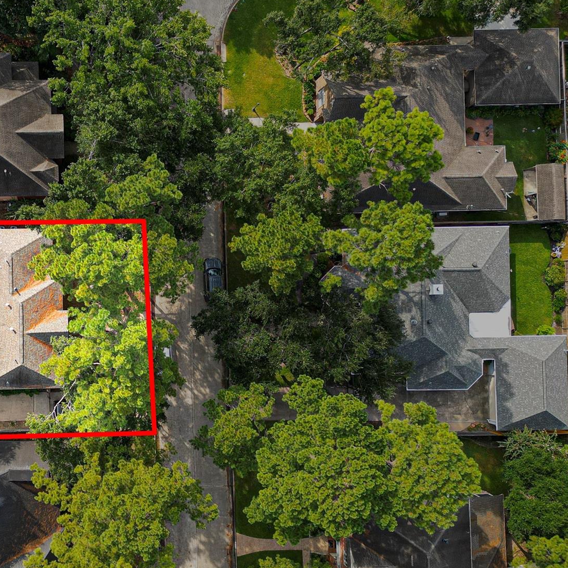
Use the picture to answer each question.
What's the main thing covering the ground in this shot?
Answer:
trees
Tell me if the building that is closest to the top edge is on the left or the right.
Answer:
right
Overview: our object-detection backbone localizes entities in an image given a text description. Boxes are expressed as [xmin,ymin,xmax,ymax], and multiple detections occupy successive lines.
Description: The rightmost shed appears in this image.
[524,162,568,222]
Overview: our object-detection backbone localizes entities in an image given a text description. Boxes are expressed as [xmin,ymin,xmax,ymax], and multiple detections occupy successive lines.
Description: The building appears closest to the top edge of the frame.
[463,27,561,107]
